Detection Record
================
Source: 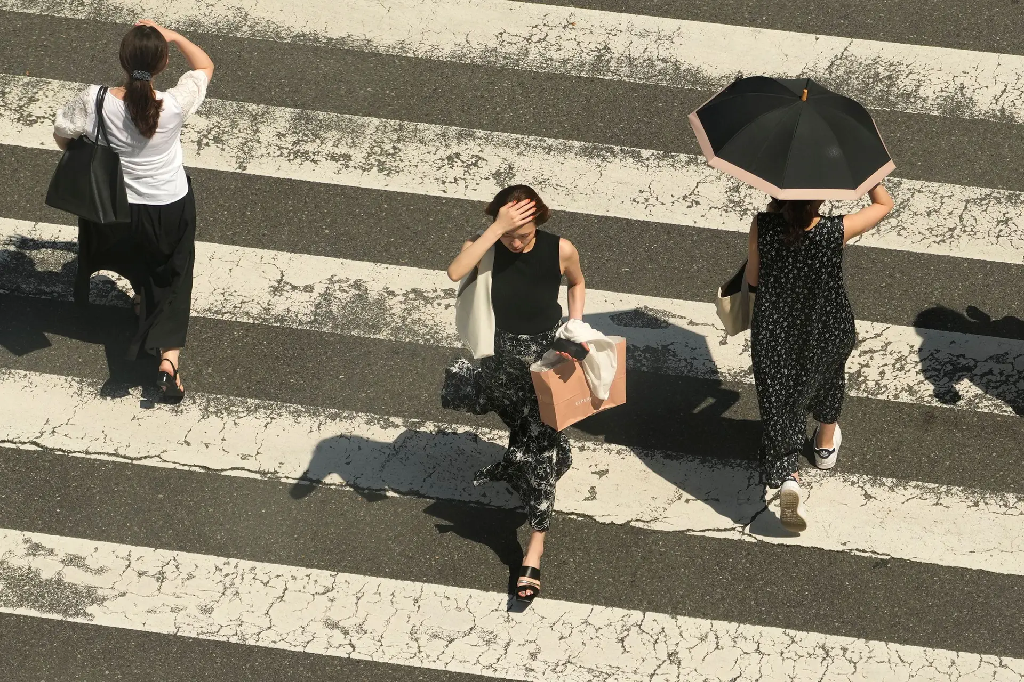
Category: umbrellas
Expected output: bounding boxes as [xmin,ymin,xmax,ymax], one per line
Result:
[687,75,899,200]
